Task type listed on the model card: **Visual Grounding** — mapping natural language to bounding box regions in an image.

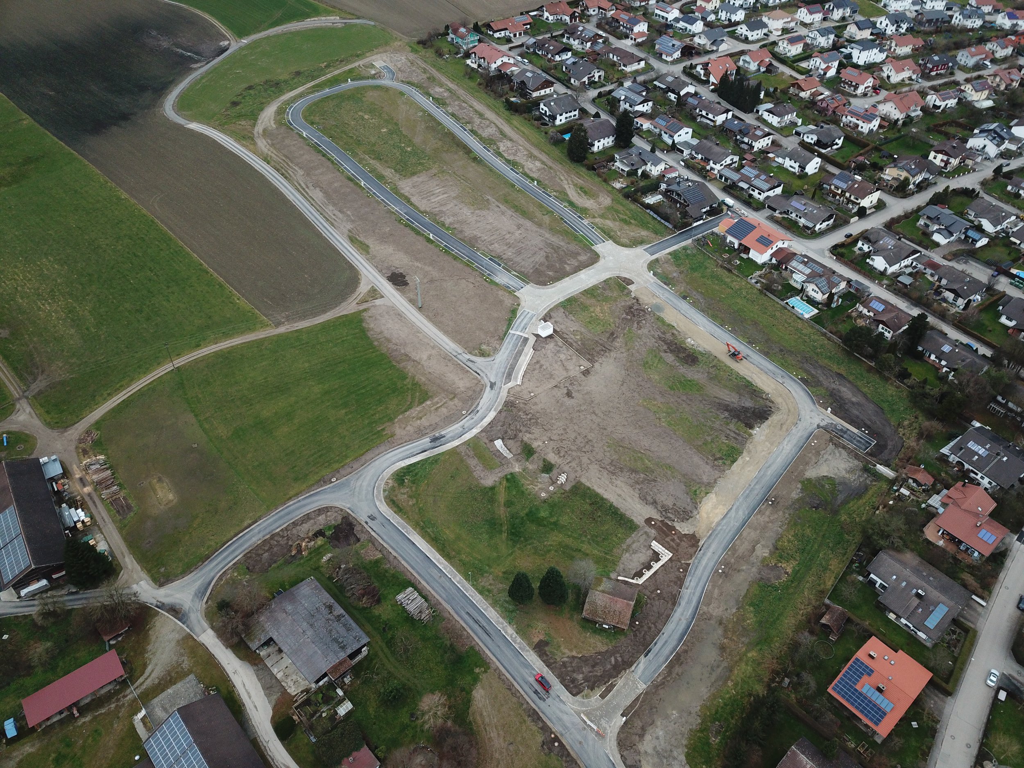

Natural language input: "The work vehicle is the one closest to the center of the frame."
[725,339,744,361]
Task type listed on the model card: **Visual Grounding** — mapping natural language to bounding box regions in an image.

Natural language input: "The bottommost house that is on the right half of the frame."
[777,730,851,768]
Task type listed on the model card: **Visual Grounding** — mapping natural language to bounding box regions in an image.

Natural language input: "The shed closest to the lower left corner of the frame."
[22,650,135,745]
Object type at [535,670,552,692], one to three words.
car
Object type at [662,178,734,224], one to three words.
house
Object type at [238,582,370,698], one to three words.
barn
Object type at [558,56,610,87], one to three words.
house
